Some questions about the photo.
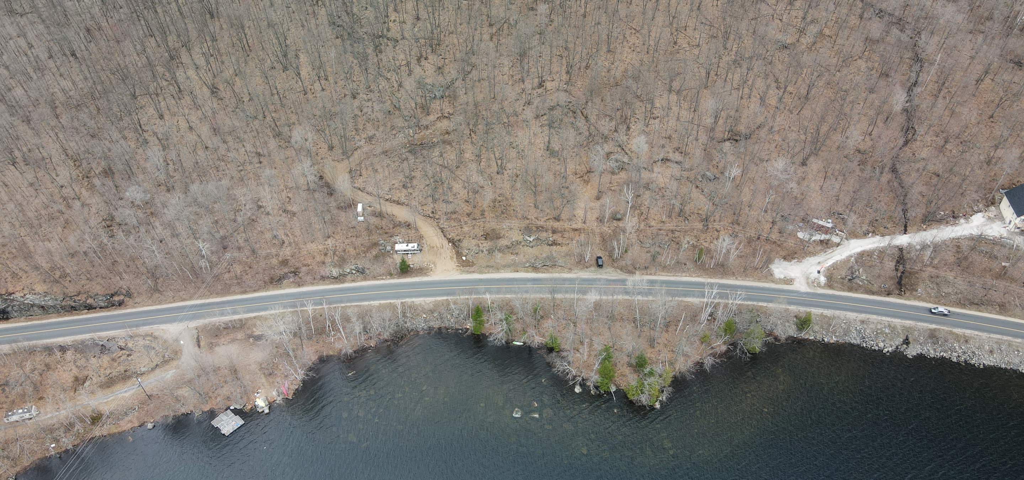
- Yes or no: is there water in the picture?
Yes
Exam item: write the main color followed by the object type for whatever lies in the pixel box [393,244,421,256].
white vehicle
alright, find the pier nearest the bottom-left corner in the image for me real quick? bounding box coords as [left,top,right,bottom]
[211,410,245,437]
